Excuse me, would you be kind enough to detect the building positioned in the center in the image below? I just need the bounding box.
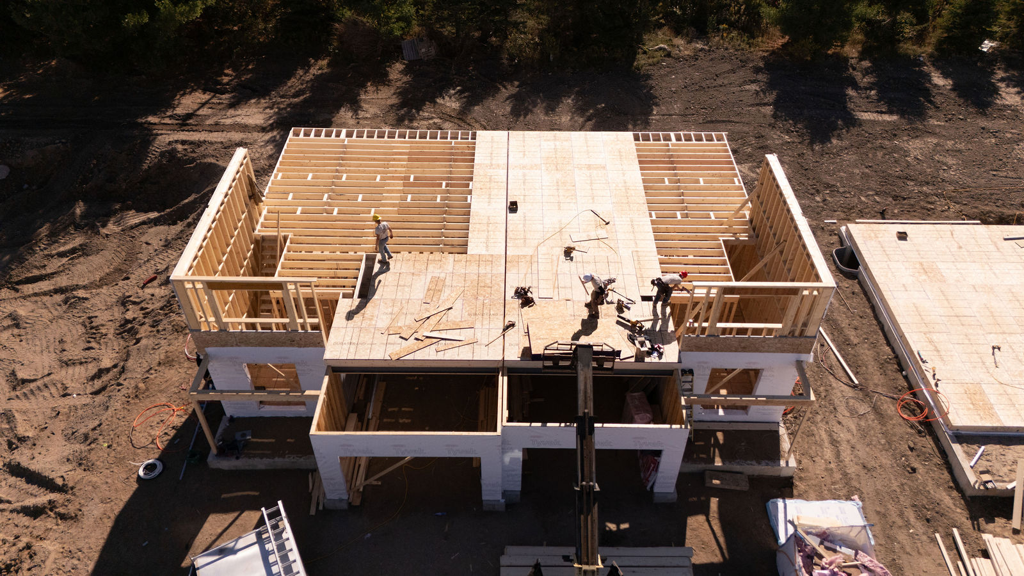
[174,128,834,501]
